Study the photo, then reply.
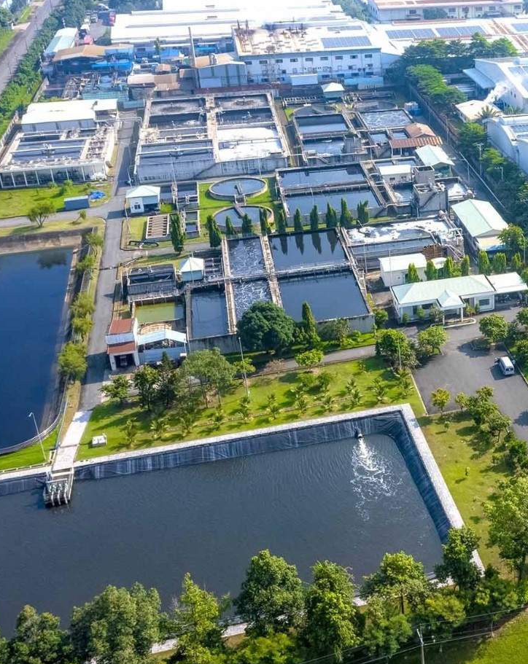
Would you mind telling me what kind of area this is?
industrial area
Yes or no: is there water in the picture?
Yes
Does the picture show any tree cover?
Yes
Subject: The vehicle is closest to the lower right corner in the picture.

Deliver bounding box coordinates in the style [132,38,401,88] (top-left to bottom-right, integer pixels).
[495,359,512,376]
